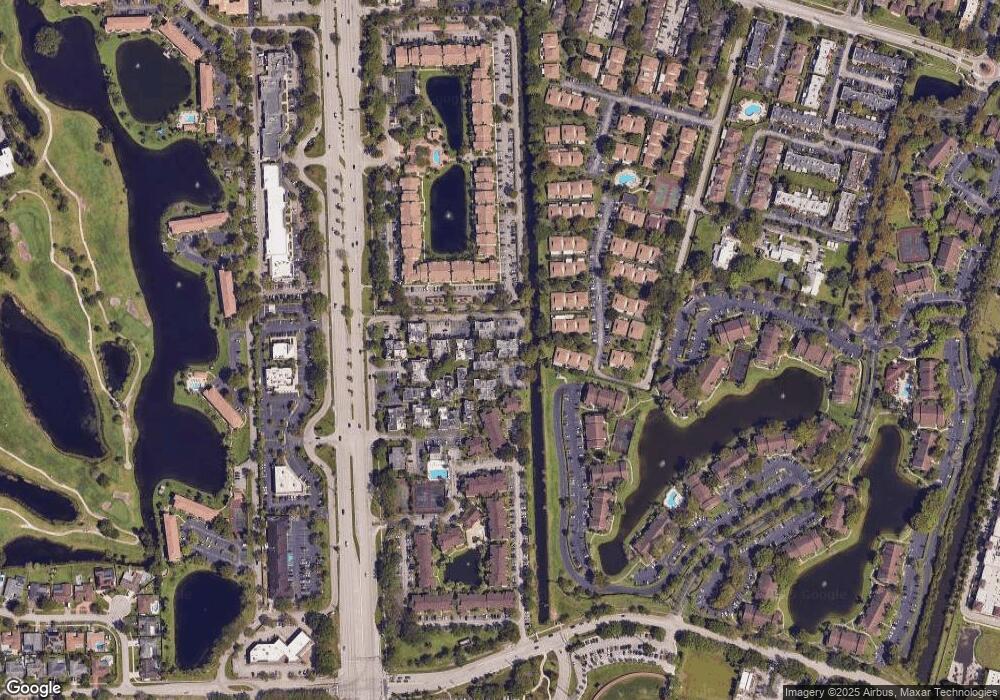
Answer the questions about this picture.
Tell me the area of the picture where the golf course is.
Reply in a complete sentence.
Look in the left portion of the view to spot the golf course.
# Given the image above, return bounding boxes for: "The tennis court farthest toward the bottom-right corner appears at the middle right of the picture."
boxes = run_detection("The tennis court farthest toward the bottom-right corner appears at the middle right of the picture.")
[730,348,751,383]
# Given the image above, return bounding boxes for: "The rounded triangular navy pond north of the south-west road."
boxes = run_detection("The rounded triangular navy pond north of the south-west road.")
[175,571,242,670]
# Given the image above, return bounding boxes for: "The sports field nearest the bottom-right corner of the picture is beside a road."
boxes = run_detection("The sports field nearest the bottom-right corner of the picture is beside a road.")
[682,650,737,700]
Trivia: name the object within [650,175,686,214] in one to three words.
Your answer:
tennis court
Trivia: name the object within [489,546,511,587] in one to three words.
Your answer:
building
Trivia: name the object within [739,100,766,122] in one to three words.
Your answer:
swimming pool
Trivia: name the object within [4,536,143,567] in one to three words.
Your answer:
pond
